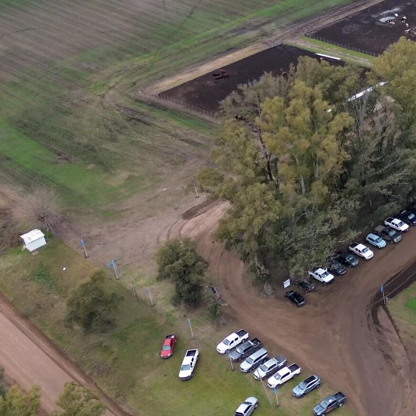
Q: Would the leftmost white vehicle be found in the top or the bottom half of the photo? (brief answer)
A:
bottom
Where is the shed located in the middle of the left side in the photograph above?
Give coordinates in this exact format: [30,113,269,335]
[18,225,46,251]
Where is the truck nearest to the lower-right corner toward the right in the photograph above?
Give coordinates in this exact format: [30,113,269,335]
[314,388,348,416]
